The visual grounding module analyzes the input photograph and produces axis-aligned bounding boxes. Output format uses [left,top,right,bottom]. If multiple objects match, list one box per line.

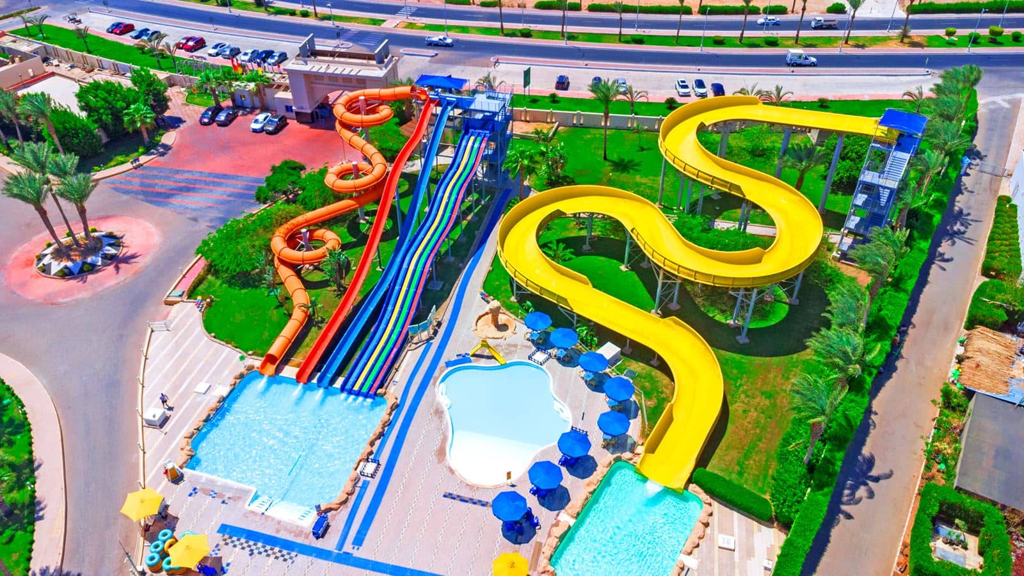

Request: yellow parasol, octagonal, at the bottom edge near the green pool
[491,551,533,576]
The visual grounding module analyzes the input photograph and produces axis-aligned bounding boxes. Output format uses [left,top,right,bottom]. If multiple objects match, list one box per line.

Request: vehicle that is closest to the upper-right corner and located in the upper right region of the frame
[809,13,844,28]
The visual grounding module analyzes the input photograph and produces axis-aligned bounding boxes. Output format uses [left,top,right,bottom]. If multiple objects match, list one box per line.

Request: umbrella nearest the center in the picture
[524,314,552,332]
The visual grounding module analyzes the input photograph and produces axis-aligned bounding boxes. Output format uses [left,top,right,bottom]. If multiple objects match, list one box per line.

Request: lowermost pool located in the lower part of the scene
[549,461,701,576]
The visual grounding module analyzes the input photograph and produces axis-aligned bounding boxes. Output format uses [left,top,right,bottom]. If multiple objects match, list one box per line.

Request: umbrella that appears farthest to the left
[117,485,167,527]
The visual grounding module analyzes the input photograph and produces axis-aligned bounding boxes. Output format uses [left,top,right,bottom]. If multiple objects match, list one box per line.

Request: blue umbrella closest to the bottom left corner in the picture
[491,491,529,529]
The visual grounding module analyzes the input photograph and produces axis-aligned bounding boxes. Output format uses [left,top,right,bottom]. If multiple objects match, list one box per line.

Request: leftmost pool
[183,370,388,527]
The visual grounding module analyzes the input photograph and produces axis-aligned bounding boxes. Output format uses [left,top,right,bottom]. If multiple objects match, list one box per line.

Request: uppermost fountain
[473,301,517,340]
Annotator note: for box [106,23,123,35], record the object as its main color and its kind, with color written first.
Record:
blue vehicle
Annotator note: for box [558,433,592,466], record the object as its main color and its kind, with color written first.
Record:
blue umbrella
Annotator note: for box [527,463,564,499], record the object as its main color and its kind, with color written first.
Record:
blue umbrella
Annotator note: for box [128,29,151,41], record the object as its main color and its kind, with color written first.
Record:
blue vehicle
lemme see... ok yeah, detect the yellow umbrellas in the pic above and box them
[160,531,213,575]
[117,485,167,527]
[491,551,533,576]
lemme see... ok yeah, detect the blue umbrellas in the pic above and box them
[524,314,552,332]
[491,491,529,529]
[597,413,630,437]
[527,463,564,499]
[558,433,592,466]
[549,329,578,348]
[578,353,608,376]
[604,379,635,403]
